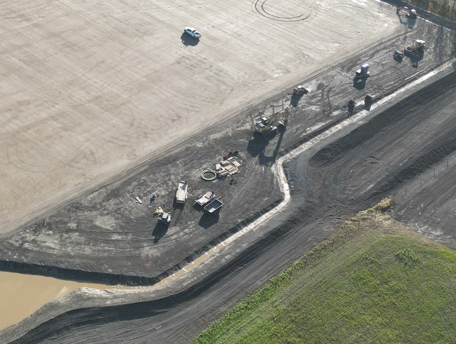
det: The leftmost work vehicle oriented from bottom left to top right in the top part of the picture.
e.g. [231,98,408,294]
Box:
[254,104,294,138]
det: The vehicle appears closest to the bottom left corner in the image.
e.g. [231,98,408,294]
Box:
[157,213,172,225]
